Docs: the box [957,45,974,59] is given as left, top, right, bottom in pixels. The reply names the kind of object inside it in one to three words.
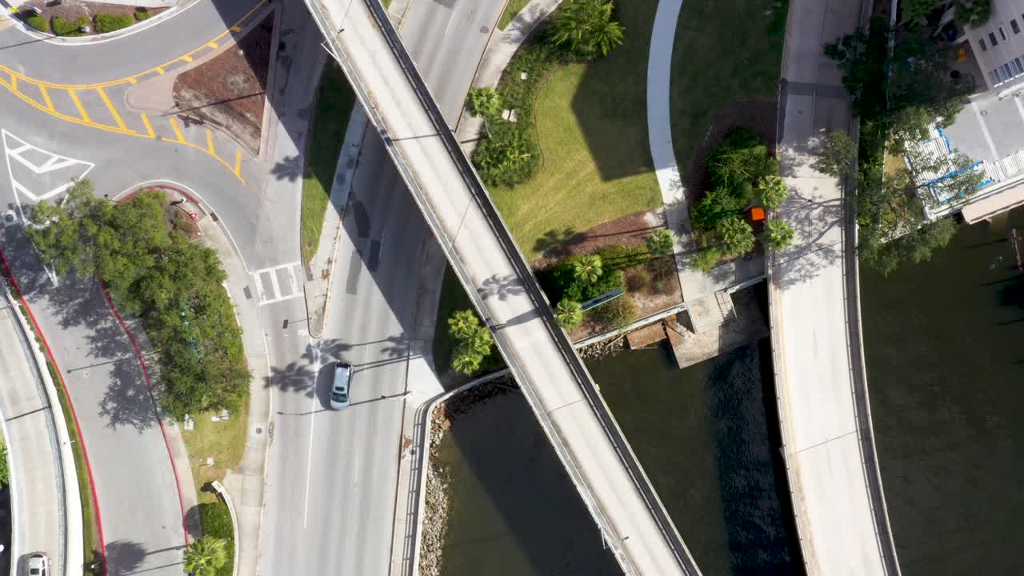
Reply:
umbrella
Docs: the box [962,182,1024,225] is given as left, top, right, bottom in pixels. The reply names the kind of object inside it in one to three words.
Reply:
pier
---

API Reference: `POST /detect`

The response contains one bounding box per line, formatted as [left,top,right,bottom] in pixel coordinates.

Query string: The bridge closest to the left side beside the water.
[304,0,702,576]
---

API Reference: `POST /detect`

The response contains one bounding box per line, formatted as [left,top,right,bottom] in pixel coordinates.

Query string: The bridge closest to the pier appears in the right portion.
[768,0,903,576]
